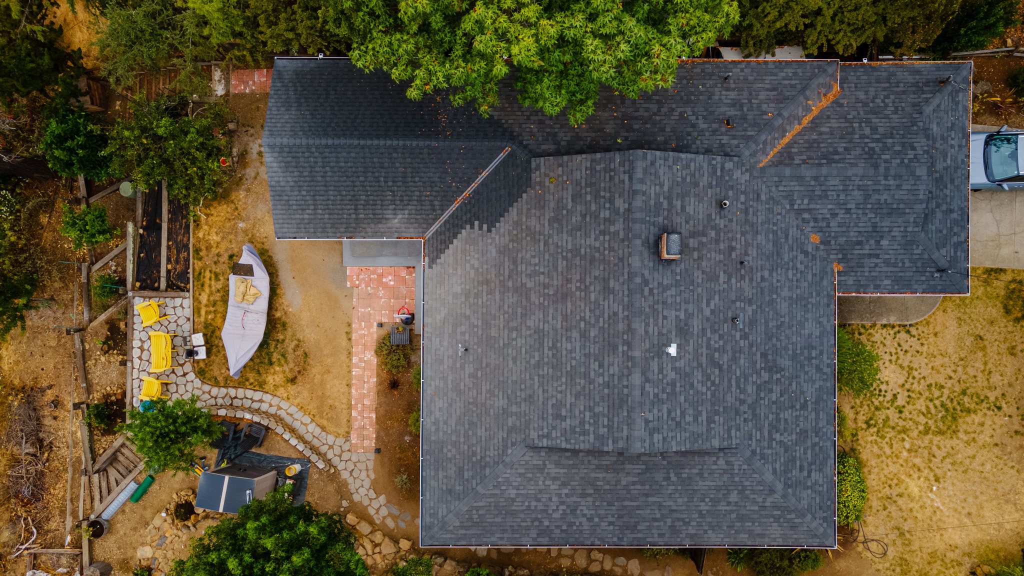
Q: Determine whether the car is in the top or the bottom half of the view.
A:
top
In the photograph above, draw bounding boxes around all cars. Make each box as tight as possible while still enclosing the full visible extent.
[972,126,1024,192]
